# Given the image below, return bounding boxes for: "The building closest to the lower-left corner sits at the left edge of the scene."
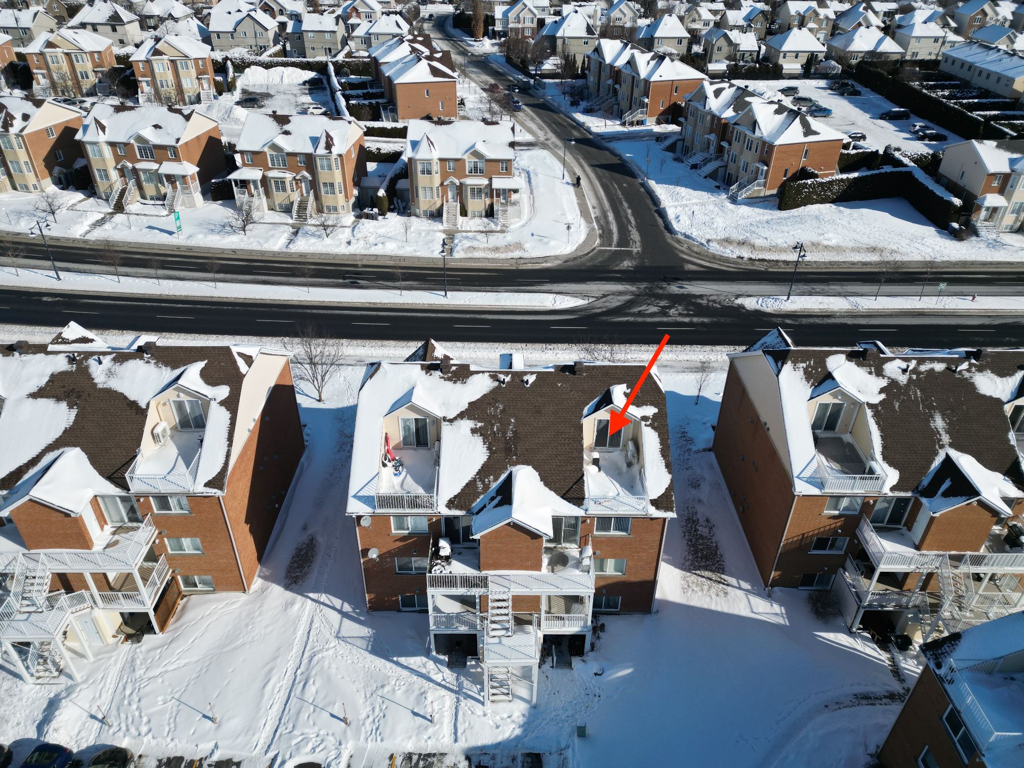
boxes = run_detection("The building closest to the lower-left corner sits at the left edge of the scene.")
[0,324,303,679]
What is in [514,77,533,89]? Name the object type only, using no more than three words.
vehicle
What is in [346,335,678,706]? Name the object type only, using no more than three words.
building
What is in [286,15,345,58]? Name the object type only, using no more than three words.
house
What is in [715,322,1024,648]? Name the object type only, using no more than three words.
building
